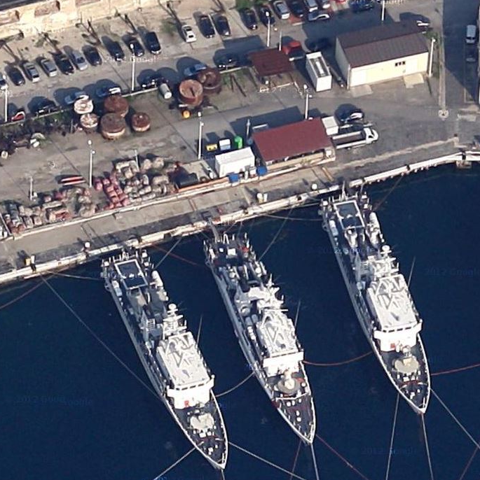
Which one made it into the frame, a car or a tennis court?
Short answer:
car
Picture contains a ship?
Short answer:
Yes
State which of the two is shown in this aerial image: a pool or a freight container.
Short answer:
freight container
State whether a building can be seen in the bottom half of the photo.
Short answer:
No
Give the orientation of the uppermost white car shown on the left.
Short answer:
on a diagonal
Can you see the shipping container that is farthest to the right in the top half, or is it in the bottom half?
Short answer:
top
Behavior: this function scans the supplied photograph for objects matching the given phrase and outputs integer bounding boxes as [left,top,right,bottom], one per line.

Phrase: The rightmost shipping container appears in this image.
[307,53,332,91]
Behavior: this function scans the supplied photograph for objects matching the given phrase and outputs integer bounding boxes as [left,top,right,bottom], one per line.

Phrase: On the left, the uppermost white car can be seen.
[178,23,199,44]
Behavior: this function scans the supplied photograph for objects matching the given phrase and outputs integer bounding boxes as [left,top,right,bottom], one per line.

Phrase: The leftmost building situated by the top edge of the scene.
[334,17,430,97]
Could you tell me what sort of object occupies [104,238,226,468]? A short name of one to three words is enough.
ship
